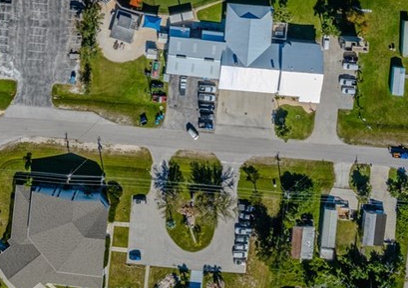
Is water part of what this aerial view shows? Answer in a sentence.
No, the scene doesn't show any water.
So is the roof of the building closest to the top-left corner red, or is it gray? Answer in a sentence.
The roof of the building closest to the top-left corner is gray.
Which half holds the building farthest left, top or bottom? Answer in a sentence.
It is in the bottom half that the building farthest left appears.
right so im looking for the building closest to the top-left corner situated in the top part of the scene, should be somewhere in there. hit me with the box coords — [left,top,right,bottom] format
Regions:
[109,9,141,44]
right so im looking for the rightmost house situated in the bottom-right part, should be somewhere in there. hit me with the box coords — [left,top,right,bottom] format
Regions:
[360,209,387,246]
